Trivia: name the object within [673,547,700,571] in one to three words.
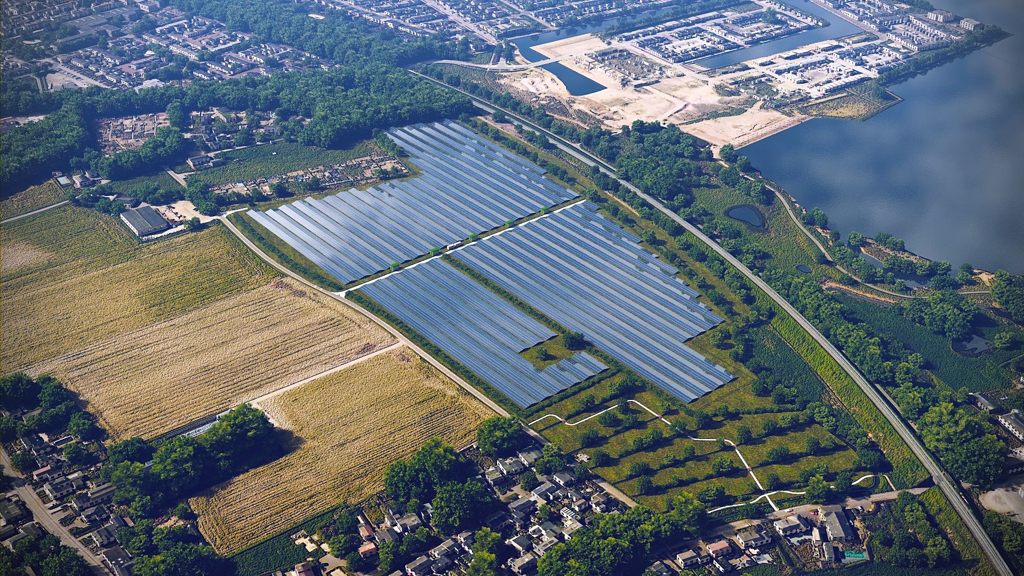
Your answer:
house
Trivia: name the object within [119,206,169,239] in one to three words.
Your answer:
barn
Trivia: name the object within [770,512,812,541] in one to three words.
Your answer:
house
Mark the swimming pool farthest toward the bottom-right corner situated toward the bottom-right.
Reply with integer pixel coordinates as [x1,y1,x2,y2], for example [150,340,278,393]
[838,548,871,562]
